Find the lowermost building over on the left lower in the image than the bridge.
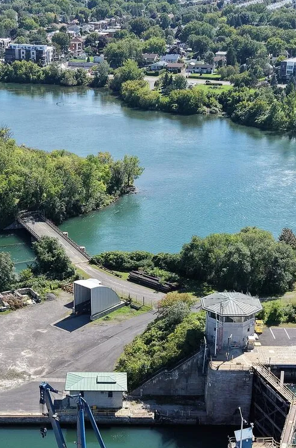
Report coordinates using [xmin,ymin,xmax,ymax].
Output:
[62,373,128,409]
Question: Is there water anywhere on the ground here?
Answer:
Yes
